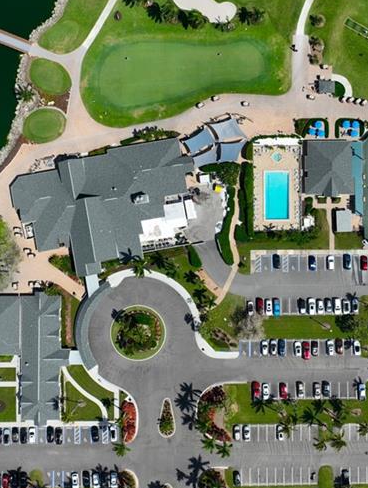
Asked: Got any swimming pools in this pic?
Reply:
Yes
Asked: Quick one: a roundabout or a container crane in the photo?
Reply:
roundabout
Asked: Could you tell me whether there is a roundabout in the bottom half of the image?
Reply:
Yes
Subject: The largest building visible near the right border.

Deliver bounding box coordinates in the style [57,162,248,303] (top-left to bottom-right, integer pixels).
[305,141,354,196]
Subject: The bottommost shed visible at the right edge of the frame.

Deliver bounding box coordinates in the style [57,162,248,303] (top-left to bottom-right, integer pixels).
[336,210,352,232]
